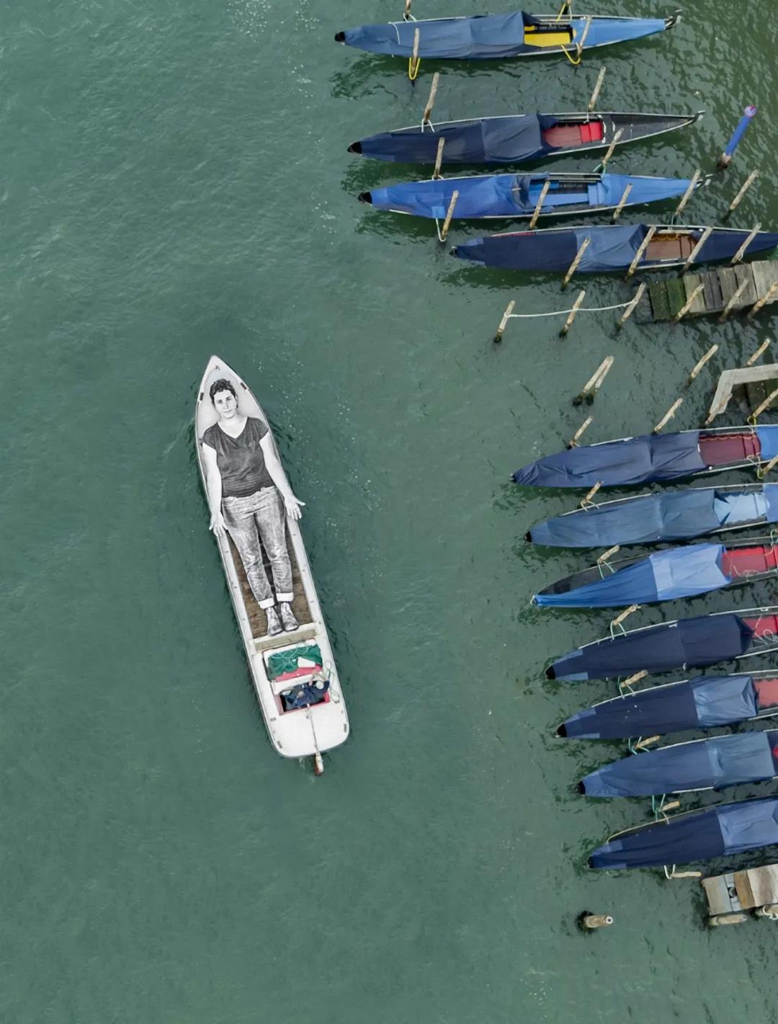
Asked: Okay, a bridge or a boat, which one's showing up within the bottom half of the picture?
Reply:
boat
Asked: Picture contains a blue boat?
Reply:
Yes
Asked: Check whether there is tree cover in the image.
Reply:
No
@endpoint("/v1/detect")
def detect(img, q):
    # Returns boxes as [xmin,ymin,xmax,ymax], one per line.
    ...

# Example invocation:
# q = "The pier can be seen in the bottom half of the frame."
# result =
[702,862,778,915]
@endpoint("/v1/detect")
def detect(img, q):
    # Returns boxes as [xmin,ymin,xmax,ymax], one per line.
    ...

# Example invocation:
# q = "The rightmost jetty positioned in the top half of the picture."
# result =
[735,379,778,412]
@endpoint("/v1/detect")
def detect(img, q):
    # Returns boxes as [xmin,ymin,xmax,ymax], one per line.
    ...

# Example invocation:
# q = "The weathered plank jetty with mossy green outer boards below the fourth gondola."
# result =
[638,260,778,322]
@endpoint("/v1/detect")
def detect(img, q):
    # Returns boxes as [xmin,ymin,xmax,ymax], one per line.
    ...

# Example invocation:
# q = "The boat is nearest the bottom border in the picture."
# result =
[586,788,778,868]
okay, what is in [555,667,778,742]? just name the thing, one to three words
boat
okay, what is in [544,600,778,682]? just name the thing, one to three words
boat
